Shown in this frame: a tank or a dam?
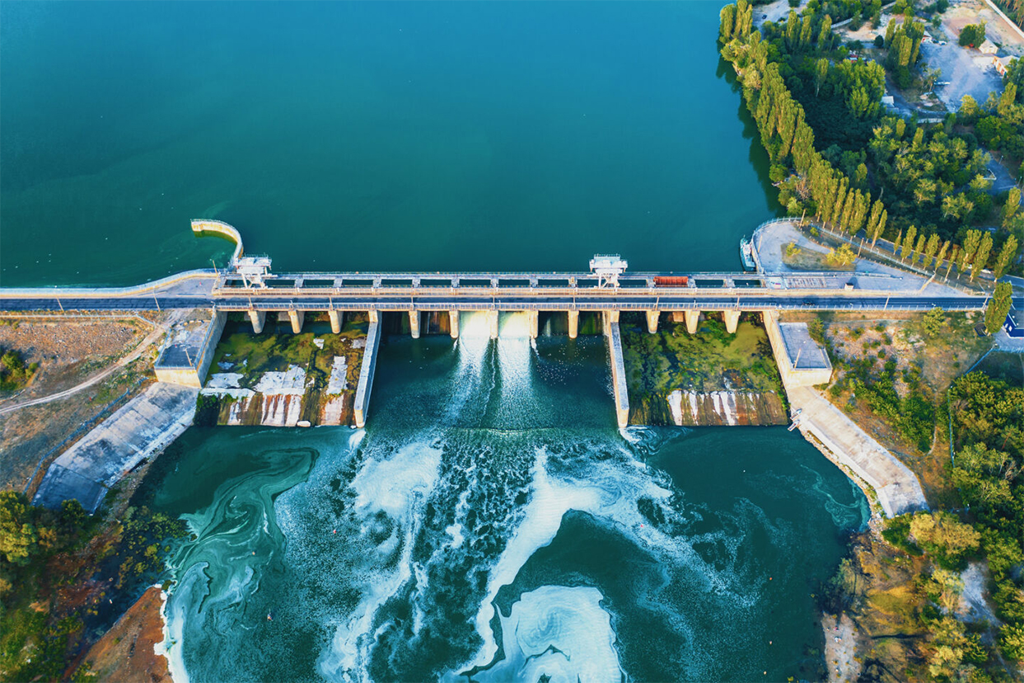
dam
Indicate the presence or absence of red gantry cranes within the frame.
No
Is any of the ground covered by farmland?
No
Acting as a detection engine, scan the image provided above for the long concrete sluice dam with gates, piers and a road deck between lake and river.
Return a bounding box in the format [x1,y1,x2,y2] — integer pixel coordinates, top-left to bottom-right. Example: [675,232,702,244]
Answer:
[193,272,924,428]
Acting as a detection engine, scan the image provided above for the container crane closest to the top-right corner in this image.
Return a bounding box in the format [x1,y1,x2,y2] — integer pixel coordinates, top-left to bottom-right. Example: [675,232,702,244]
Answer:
[589,249,630,288]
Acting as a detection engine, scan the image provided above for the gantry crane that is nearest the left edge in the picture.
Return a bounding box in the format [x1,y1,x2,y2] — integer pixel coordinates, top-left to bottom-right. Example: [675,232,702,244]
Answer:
[229,249,274,288]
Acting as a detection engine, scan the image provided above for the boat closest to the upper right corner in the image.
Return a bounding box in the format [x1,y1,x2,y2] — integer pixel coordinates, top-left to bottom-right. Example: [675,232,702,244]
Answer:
[740,234,756,271]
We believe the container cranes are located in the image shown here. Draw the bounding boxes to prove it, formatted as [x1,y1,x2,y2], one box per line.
[229,249,274,288]
[589,249,630,288]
